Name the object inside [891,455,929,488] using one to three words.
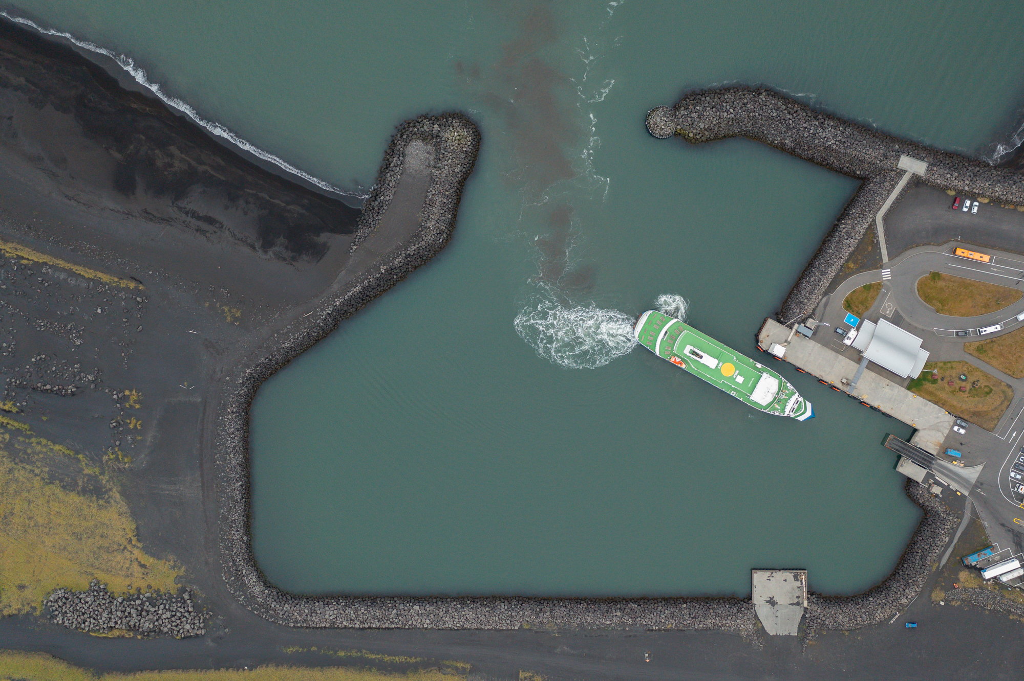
pier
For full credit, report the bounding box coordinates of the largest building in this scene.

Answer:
[849,318,930,379]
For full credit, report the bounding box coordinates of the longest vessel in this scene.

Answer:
[633,310,816,421]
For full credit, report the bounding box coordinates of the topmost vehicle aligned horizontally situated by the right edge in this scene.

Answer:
[952,246,991,262]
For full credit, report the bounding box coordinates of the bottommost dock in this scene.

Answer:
[749,567,809,637]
